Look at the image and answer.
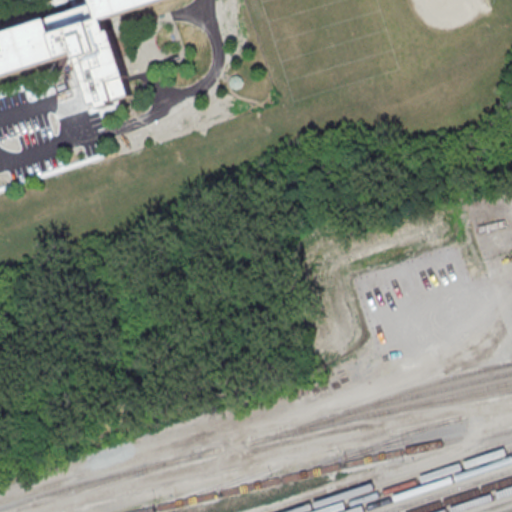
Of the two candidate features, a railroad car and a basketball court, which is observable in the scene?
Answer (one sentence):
The image shows a railroad car.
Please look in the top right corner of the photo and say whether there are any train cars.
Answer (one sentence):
No, there's no train car to be seen in the top right corner of the photo.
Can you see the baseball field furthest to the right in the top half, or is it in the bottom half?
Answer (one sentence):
It is in the top half that the baseball field furthest to the right appears.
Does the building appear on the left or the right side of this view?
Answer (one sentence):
The building appears in the left half of the scene.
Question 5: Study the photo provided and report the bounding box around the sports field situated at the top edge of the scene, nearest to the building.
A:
[261,0,400,103]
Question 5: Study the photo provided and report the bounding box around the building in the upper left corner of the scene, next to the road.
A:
[0,0,178,118]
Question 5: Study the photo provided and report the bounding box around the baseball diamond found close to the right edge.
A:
[411,0,492,31]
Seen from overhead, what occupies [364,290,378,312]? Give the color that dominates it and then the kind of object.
white vehicle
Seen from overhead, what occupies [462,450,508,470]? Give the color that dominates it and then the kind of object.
white rail car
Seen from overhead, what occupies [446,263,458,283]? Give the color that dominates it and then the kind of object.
white vehicle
